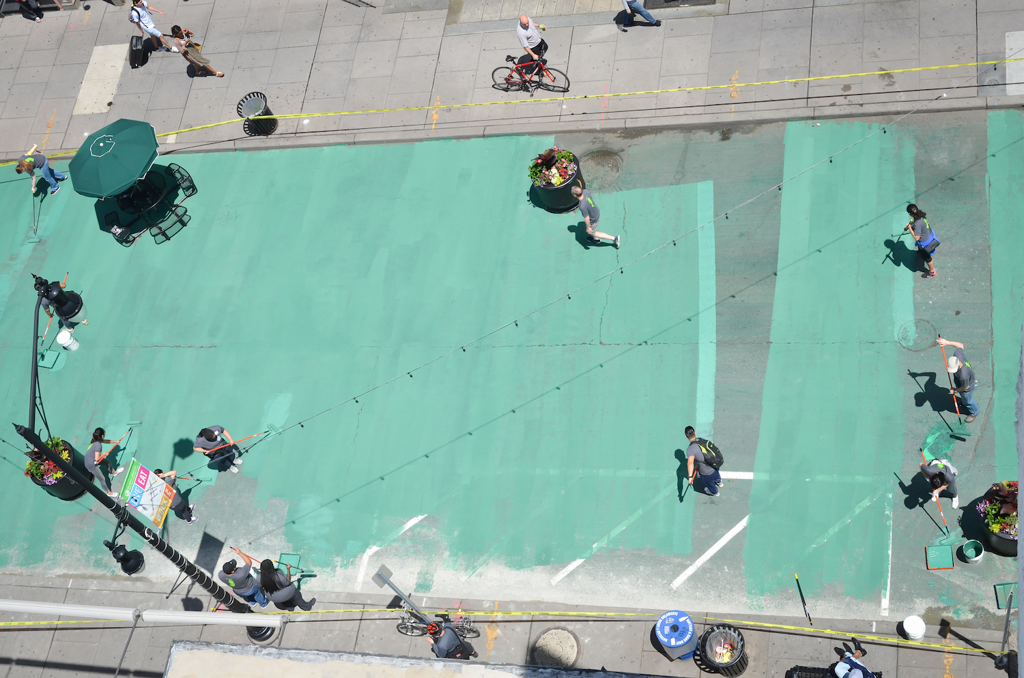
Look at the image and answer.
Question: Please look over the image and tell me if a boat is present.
No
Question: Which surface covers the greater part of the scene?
paved ground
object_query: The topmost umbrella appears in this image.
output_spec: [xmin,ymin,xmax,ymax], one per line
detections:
[70,116,158,199]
